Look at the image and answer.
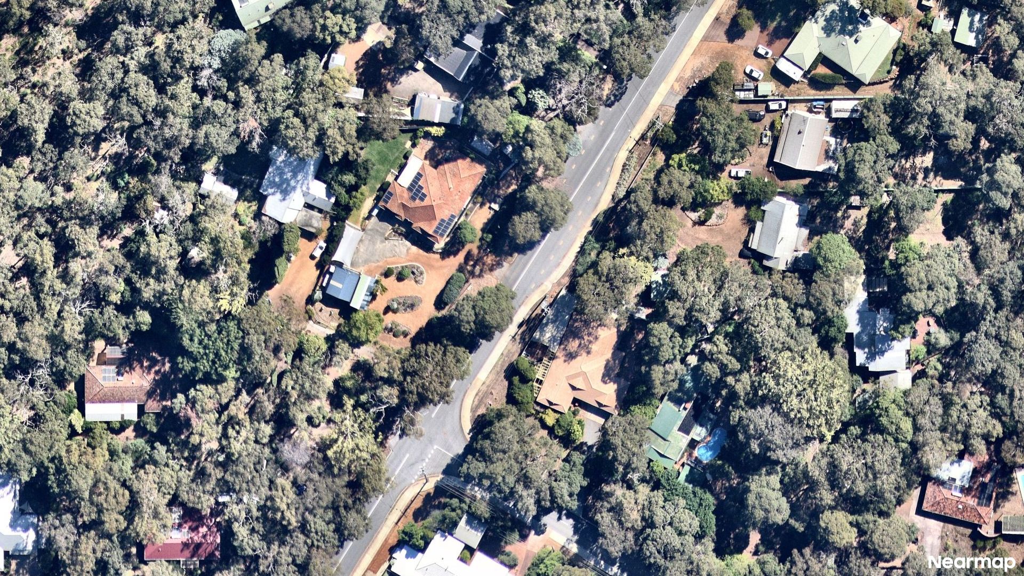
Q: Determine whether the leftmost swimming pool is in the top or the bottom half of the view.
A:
bottom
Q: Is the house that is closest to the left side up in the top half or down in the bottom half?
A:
bottom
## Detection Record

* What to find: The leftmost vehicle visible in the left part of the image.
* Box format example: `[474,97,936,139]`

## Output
[310,240,326,259]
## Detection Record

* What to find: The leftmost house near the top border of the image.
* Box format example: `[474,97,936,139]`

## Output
[228,0,295,32]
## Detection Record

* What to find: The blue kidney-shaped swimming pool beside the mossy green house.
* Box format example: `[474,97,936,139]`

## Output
[699,429,724,461]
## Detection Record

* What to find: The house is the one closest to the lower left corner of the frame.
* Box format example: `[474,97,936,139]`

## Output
[0,476,37,568]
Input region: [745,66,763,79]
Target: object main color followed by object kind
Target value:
white vehicle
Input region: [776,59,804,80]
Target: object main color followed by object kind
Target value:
white camper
